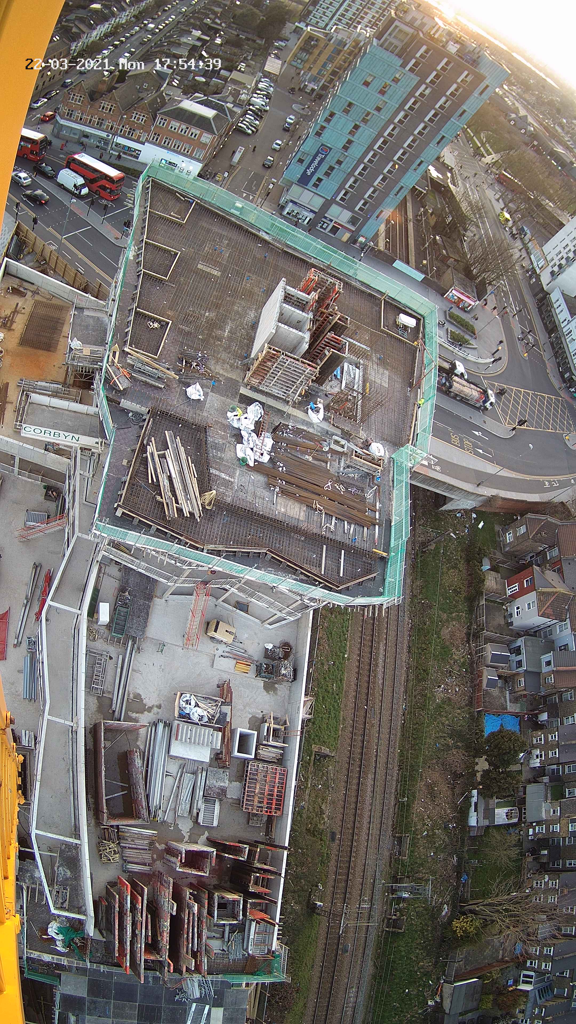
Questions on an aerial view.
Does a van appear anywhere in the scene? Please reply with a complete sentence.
Yes, the image includes a van.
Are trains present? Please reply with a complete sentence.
No, I can't see a single train in this photo.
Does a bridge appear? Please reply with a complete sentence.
Yes, the photo shows a bridge.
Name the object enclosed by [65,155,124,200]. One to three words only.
bus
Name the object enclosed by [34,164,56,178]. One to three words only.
car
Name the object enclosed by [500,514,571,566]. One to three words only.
house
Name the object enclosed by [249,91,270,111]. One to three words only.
vehicle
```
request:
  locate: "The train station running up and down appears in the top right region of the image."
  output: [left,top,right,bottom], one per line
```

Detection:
[406,186,433,275]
